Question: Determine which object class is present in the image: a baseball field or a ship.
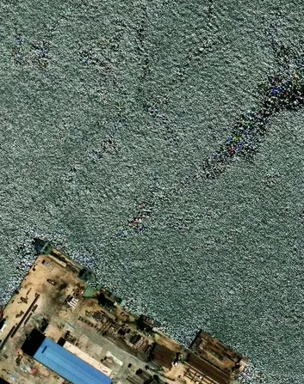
ship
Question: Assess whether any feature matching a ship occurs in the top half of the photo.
No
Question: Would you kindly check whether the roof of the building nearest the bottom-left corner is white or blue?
blue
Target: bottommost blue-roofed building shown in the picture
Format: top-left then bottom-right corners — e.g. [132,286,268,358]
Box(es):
[33,338,112,384]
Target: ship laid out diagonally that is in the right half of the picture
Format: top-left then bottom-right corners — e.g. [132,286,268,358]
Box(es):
[190,331,246,379]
